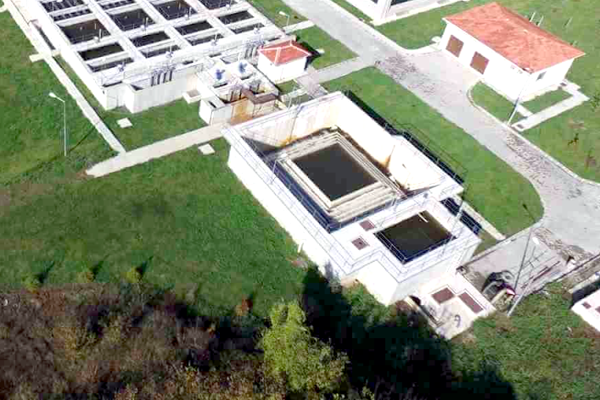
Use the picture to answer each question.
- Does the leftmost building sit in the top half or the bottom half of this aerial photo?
top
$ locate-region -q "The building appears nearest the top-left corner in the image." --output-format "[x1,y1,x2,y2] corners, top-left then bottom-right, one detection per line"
[258,37,313,79]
